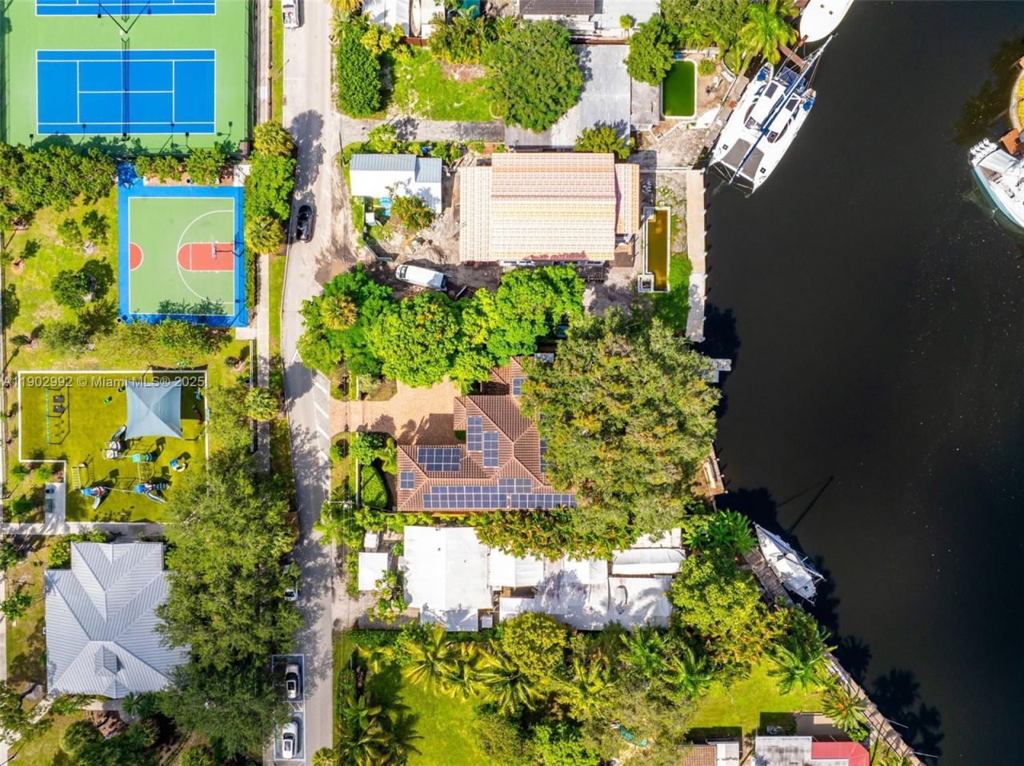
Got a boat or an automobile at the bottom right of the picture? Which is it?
boat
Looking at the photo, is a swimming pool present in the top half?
Yes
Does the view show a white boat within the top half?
Yes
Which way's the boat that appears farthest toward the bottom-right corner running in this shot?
diagonally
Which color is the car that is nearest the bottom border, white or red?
white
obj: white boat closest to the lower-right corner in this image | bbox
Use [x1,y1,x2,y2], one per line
[756,524,826,605]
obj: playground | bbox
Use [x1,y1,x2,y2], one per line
[20,373,205,522]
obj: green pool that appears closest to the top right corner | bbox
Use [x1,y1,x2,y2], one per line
[661,58,697,119]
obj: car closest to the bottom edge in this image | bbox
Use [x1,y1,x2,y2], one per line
[278,722,298,761]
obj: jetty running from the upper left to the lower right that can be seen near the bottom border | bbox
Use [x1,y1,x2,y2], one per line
[820,653,924,766]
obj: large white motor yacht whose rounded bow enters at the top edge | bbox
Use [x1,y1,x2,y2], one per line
[798,0,851,47]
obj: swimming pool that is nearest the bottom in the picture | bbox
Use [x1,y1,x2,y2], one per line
[638,274,654,292]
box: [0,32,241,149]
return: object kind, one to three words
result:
tennis court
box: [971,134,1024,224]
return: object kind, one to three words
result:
boat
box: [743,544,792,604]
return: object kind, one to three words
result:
pier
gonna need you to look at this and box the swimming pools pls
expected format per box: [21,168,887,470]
[638,274,654,292]
[643,205,671,291]
[661,58,697,119]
